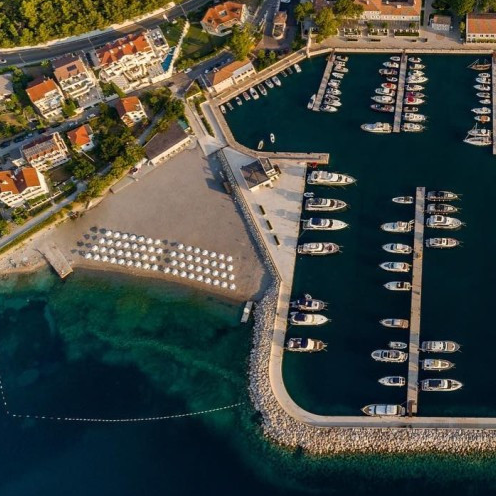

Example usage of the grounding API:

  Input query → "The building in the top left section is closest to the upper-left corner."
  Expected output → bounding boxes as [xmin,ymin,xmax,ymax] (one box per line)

[0,72,23,103]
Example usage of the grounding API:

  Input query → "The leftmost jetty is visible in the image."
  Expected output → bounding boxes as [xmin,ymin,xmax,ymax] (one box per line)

[38,248,74,278]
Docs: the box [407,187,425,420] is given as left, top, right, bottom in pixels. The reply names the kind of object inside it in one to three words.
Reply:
pier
